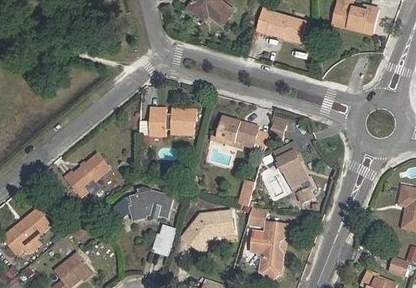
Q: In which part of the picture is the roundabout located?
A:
right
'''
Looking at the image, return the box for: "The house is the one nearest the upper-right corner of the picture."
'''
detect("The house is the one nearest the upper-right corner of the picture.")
[332,0,380,36]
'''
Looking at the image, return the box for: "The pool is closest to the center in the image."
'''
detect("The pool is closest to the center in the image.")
[210,150,232,166]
